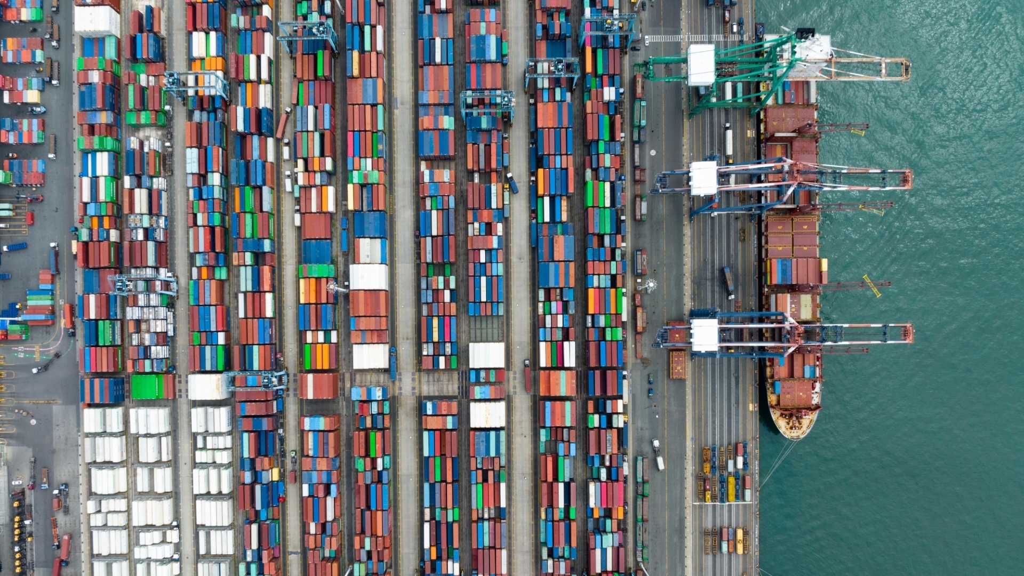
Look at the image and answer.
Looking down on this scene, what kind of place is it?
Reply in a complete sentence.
The picture captures a port.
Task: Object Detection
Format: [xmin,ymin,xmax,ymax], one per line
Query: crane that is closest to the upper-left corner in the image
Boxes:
[162,67,230,107]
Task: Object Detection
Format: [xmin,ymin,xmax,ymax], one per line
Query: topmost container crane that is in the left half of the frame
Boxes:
[277,18,338,61]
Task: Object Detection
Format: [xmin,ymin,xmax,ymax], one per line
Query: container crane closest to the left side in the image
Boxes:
[109,270,178,302]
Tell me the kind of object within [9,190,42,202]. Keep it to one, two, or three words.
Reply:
vehicle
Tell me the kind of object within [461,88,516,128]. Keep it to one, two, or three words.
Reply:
container crane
